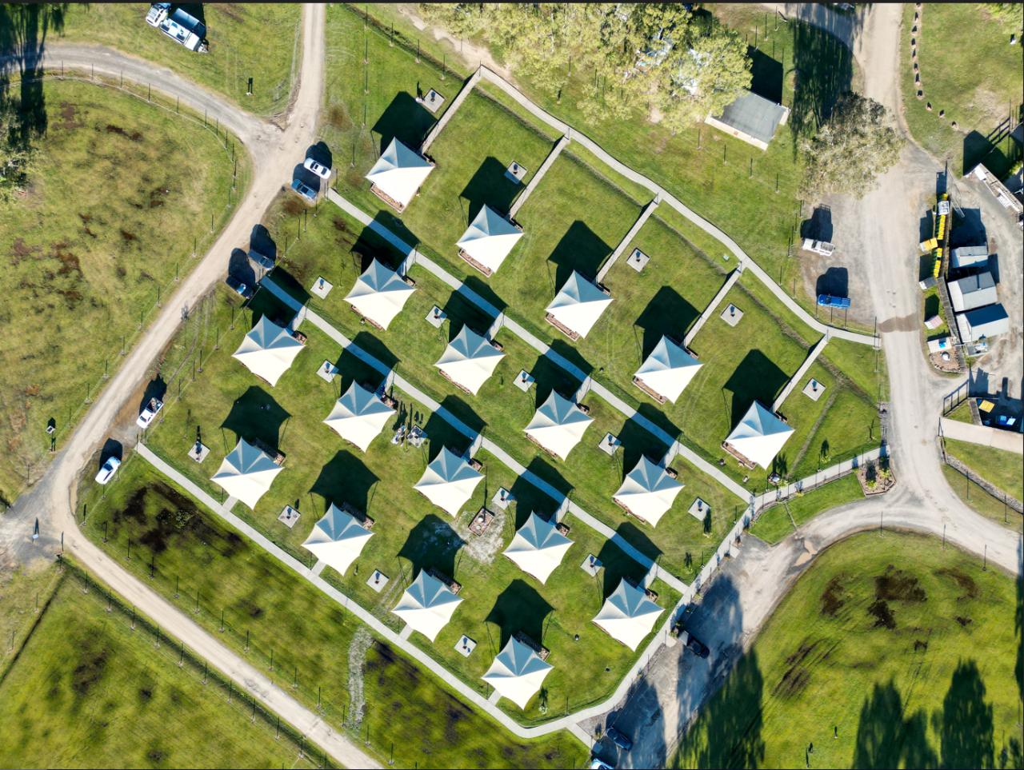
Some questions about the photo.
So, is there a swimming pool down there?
No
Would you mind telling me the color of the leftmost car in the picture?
white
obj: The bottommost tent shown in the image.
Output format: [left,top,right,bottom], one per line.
[476,619,559,703]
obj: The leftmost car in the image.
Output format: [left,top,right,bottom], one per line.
[96,457,121,484]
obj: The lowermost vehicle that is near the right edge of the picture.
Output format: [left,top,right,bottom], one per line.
[986,409,1011,424]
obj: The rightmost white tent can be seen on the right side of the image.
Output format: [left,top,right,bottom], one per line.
[708,389,789,466]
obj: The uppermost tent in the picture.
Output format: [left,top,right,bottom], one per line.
[361,136,443,220]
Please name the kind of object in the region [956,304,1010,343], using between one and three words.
shed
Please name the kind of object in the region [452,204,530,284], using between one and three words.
tent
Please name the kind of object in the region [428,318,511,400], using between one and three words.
tent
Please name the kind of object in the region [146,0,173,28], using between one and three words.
car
